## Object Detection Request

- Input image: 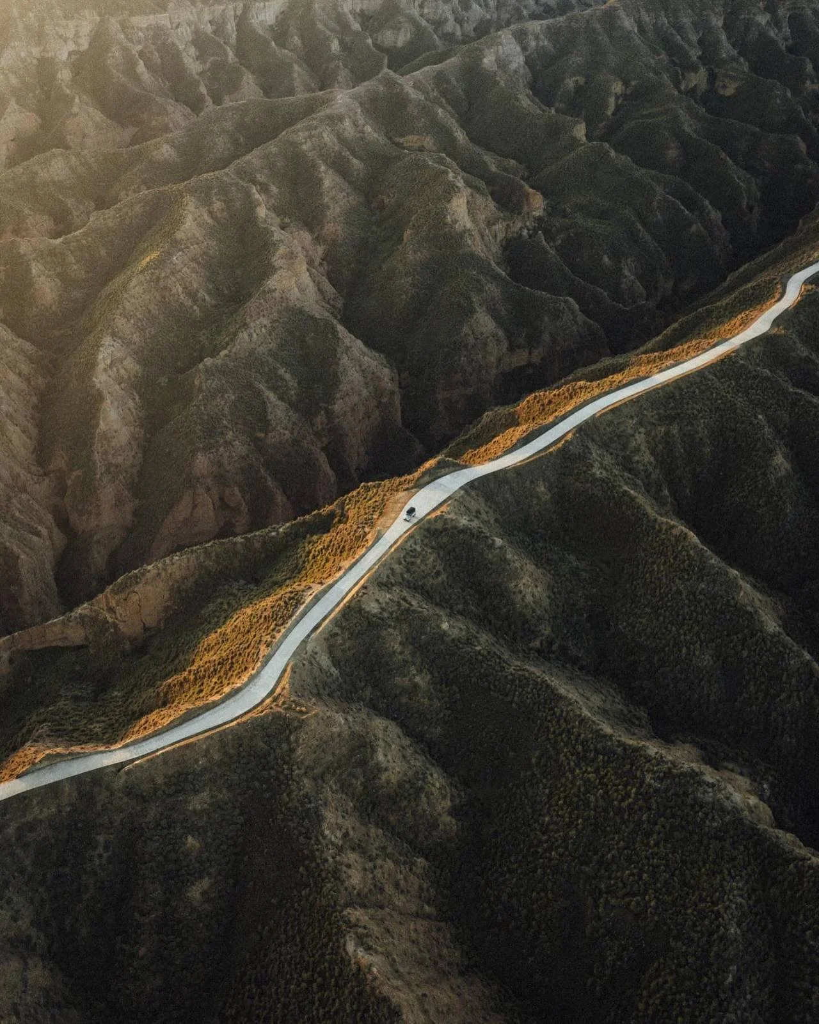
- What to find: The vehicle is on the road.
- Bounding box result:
[403,506,417,521]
